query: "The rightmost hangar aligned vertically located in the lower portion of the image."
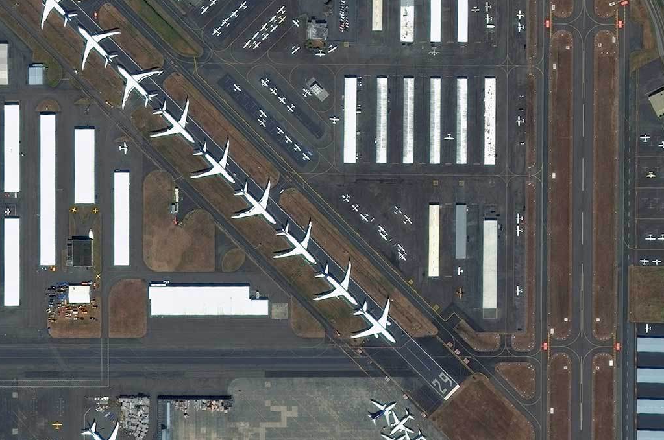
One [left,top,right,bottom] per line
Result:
[483,220,497,308]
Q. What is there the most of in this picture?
paved ground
